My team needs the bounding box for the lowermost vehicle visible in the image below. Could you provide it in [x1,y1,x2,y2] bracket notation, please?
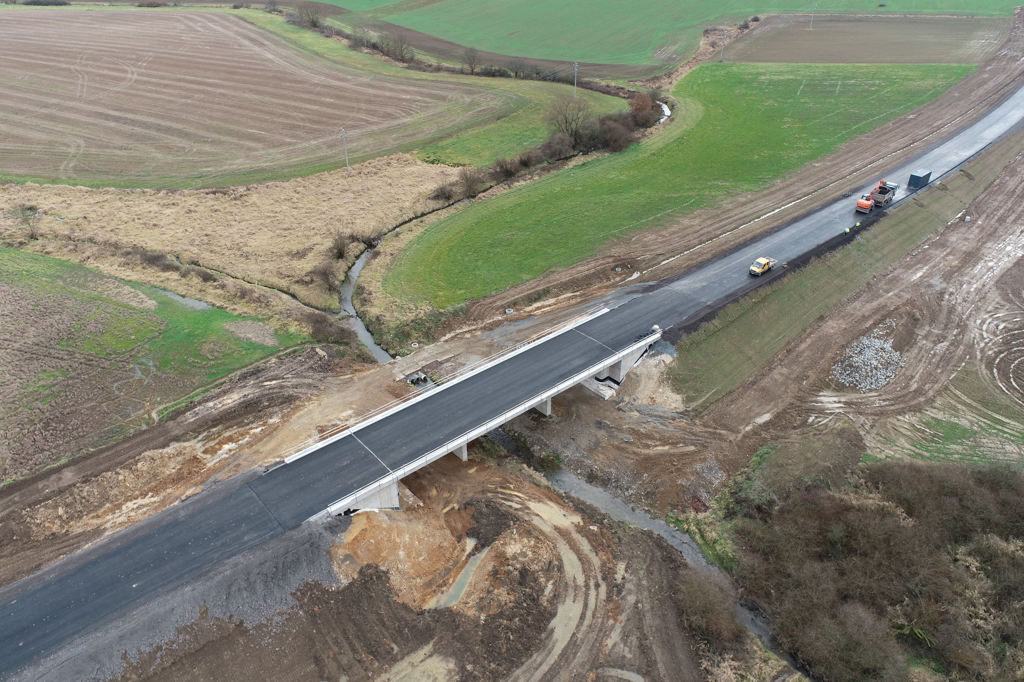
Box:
[749,257,779,275]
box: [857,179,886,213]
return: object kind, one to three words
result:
work vehicle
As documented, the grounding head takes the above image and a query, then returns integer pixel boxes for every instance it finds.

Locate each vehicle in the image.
[749,257,779,275]
[857,179,886,213]
[872,182,903,206]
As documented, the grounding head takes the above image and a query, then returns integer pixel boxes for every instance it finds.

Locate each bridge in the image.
[281,301,660,518]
